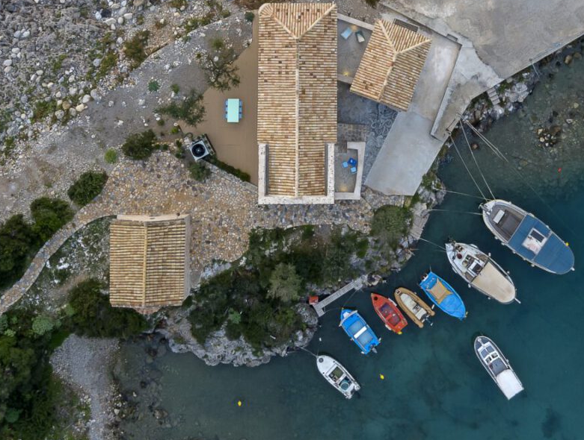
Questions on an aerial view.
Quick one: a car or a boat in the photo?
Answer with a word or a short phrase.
boat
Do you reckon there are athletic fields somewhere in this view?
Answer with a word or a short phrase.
No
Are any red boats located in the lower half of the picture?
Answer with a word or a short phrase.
Yes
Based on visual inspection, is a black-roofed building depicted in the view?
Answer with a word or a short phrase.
No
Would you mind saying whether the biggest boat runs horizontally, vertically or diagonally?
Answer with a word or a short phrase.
diagonally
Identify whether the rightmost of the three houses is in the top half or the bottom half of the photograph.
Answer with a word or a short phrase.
top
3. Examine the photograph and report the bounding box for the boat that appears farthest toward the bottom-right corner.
[473,335,523,400]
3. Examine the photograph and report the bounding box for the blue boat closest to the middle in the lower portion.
[339,308,381,355]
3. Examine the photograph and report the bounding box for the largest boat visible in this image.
[478,200,575,275]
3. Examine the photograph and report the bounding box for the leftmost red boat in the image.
[370,293,408,335]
